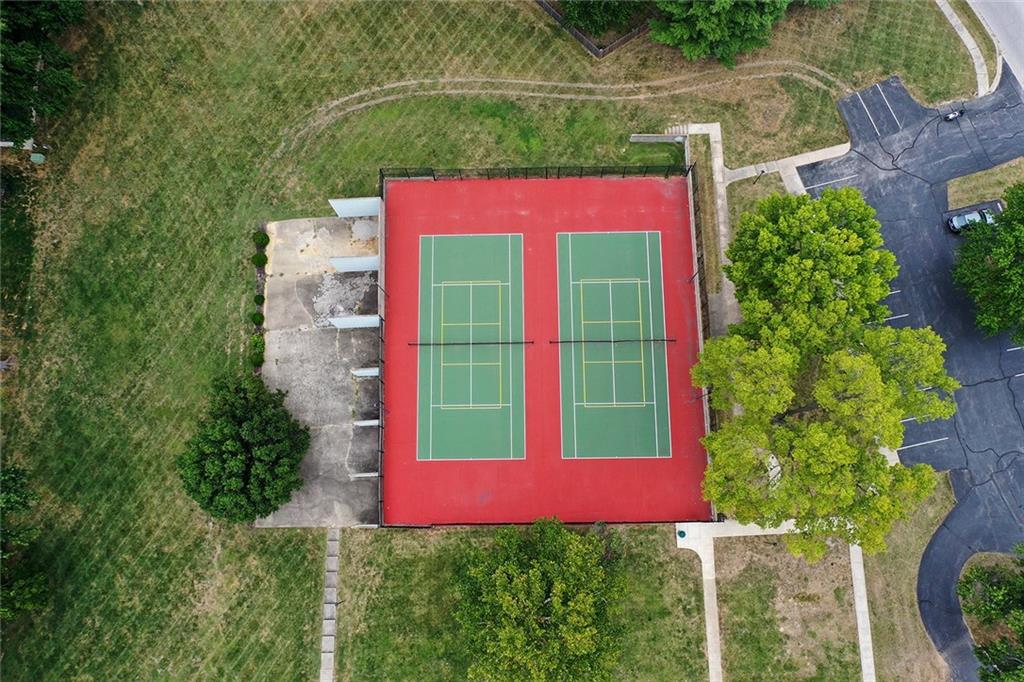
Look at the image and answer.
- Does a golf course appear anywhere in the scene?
No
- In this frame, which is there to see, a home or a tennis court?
tennis court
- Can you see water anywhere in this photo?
No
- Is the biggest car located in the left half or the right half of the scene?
right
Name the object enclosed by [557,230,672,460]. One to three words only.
tennis court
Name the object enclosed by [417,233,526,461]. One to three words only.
tennis court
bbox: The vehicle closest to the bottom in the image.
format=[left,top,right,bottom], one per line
[946,209,996,233]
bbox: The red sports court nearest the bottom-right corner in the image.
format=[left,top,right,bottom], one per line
[380,176,716,527]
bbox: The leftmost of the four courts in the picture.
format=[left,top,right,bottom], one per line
[255,216,380,528]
